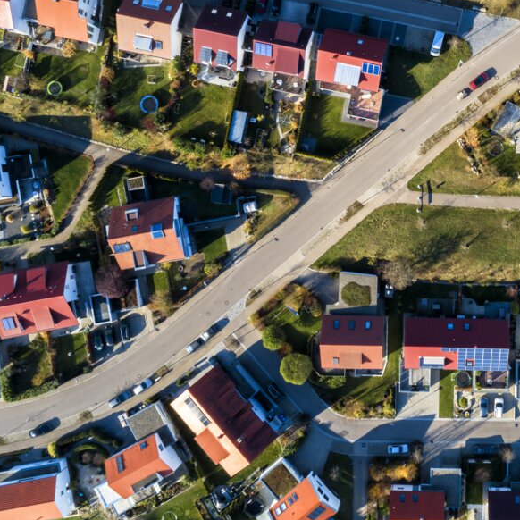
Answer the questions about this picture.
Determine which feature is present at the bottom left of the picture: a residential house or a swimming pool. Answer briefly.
residential house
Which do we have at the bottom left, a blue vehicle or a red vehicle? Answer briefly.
blue vehicle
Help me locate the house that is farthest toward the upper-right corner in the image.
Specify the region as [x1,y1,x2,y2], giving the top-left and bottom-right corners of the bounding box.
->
[316,27,388,94]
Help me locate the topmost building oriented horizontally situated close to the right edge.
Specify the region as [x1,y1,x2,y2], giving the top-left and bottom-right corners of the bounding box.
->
[404,317,512,370]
